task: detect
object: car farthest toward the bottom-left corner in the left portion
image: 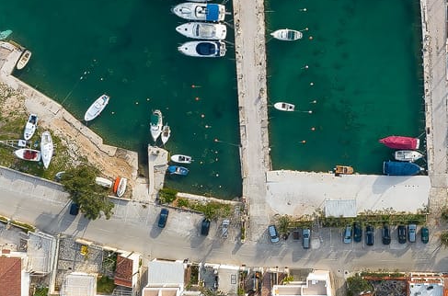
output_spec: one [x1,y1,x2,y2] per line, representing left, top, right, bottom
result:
[67,201,81,218]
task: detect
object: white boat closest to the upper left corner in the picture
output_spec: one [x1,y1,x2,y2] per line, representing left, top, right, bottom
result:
[19,48,32,68]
